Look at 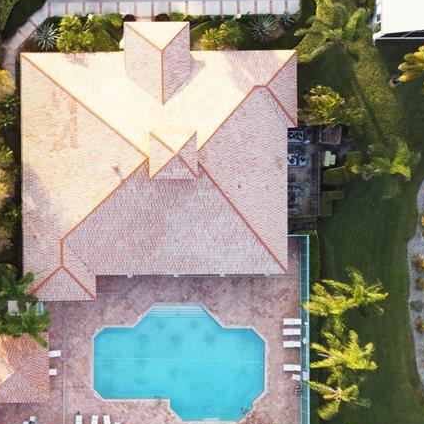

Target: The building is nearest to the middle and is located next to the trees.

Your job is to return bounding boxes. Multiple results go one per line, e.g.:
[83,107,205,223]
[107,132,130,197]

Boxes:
[20,21,298,300]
